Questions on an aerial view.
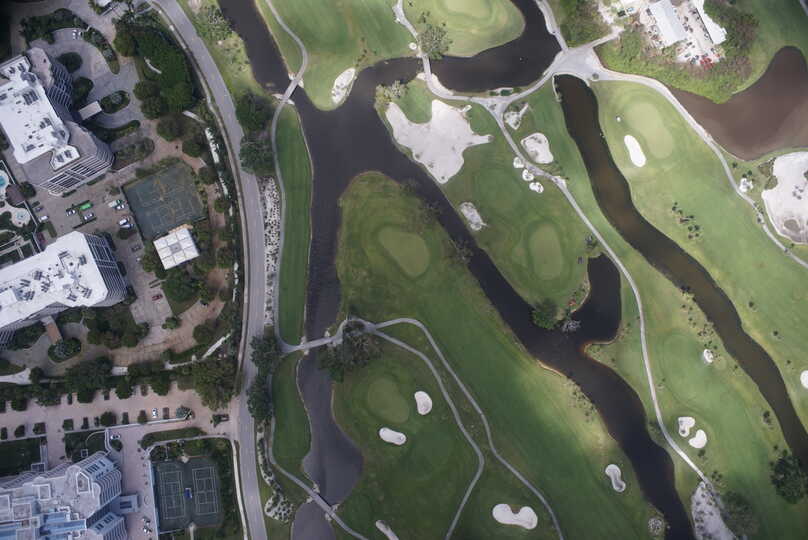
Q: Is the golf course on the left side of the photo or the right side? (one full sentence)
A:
You can find the golf course on the right side of the picture.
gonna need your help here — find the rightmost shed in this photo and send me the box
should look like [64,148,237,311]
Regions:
[690,0,726,46]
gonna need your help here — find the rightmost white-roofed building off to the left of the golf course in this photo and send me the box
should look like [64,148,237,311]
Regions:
[154,228,200,269]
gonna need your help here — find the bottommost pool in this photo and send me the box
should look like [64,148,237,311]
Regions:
[11,207,30,226]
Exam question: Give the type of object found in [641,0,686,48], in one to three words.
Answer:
shed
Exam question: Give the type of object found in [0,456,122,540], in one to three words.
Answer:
building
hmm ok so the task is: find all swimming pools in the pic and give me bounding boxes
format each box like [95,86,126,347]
[0,171,9,193]
[11,207,30,226]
